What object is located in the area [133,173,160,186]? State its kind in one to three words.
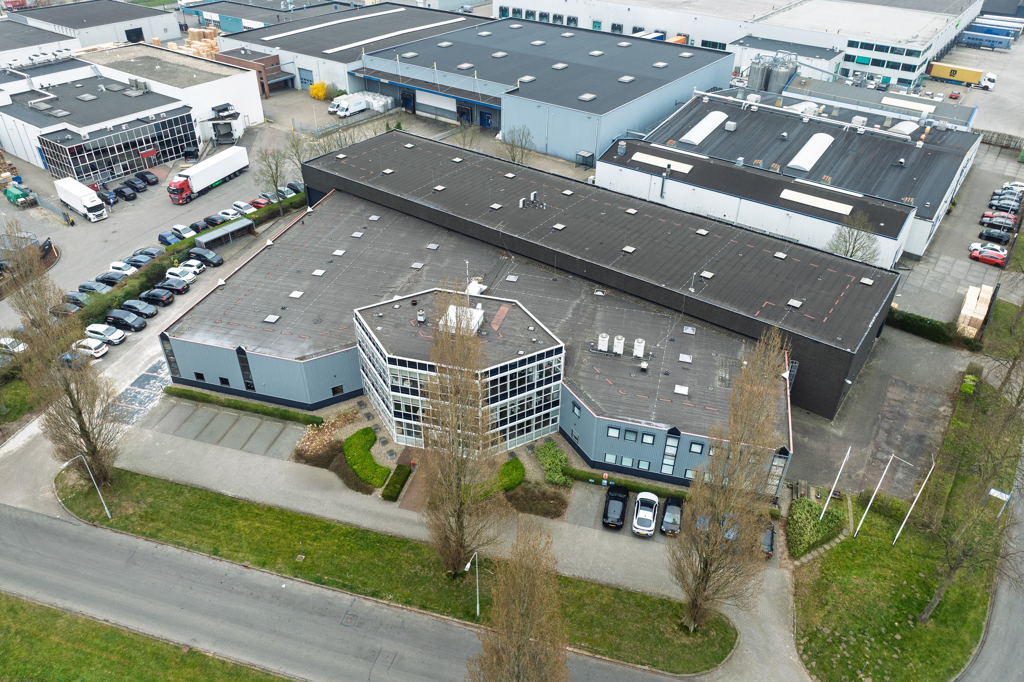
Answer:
vehicle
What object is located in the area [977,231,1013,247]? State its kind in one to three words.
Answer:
car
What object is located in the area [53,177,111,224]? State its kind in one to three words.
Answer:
truck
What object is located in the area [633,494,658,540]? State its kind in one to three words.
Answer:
car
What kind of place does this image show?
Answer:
industrial area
